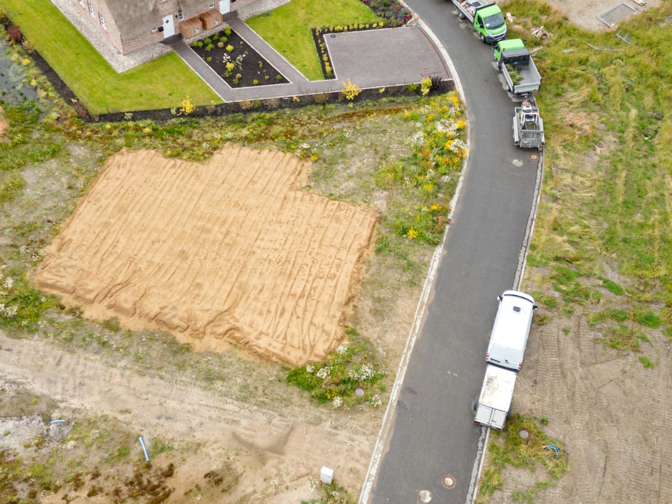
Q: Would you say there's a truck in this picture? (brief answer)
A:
Yes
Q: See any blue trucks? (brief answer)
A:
No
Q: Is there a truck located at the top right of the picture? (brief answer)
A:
Yes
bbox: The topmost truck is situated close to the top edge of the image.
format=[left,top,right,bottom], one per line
[456,0,509,44]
